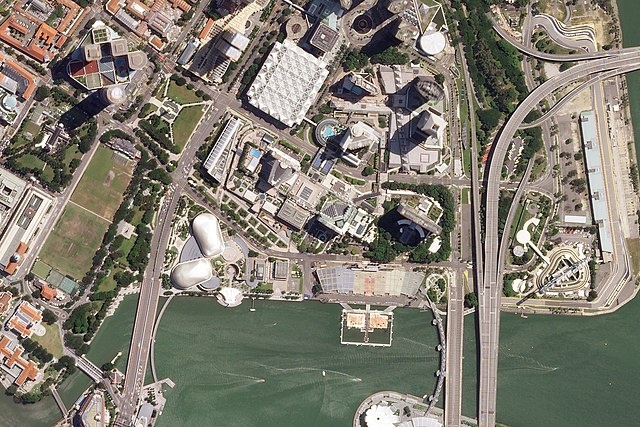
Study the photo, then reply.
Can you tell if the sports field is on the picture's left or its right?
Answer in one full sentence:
The sports field sits on the left side.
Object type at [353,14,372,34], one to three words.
fountain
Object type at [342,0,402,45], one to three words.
building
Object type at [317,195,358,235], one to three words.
building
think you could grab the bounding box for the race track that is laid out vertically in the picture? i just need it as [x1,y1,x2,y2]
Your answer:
[500,69,628,310]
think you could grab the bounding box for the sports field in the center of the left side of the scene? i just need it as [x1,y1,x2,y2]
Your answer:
[38,143,135,276]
